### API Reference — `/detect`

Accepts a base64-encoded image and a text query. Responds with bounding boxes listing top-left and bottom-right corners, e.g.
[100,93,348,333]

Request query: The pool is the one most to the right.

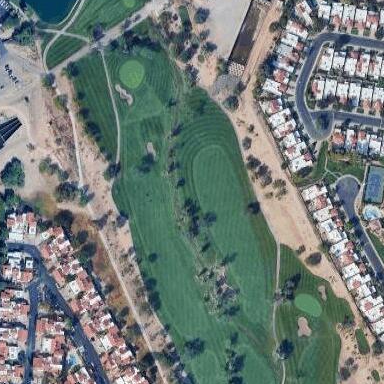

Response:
[363,204,382,218]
